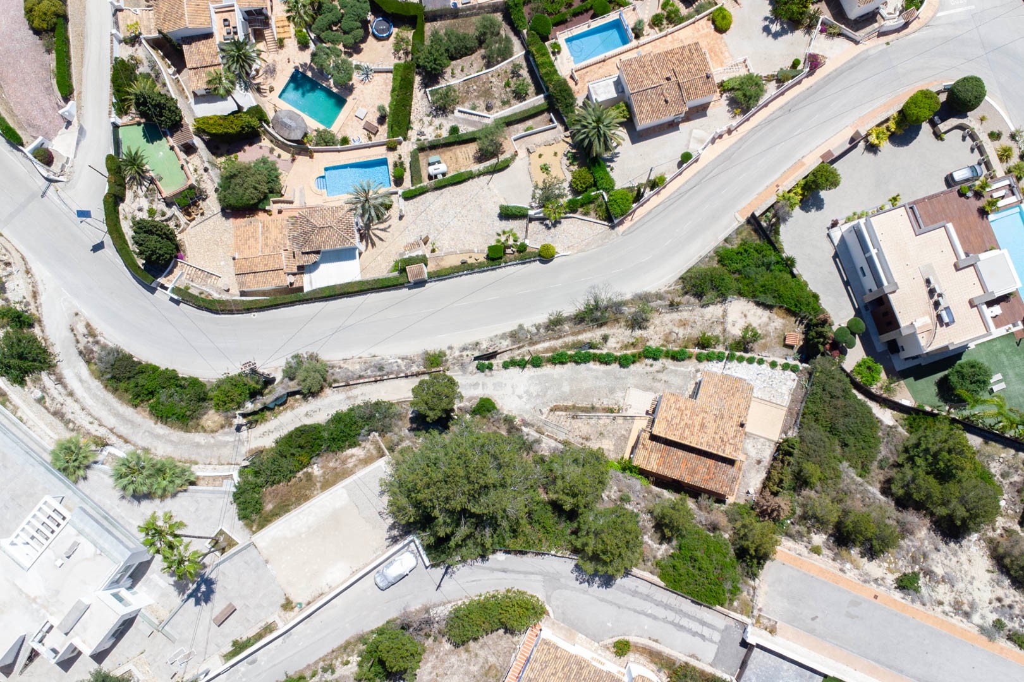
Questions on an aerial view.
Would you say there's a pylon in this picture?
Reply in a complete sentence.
Yes, there's a pylon here.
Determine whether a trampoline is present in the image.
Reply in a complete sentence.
Yes, a trampoline appears in the view.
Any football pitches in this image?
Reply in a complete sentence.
No, there appears to be no football pitch in this shot.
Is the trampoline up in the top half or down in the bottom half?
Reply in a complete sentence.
The trampoline sits in the top half of the picture.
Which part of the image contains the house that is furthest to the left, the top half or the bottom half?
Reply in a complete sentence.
The house that is furthest to the left sits in the bottom half of the picture.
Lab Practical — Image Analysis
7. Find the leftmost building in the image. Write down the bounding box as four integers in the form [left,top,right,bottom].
[0,413,171,677]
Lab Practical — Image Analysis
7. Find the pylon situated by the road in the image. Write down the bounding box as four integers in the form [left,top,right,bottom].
[226,358,283,390]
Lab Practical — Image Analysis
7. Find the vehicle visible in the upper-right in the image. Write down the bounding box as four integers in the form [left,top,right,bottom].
[940,164,984,189]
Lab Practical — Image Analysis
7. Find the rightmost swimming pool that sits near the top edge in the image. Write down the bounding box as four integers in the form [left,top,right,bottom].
[562,15,634,67]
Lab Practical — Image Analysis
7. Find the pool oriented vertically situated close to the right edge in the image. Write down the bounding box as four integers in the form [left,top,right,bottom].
[988,204,1024,289]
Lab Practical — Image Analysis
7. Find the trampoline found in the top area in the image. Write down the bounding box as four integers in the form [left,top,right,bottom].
[368,14,396,41]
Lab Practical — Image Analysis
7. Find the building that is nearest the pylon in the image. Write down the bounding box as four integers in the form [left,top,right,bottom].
[234,203,362,291]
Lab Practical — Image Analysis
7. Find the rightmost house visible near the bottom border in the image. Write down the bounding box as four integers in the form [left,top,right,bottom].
[739,644,824,682]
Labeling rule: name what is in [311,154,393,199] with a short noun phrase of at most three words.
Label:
swimming pool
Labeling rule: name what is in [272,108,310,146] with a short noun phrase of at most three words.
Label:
gazebo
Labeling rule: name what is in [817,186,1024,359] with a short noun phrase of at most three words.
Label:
house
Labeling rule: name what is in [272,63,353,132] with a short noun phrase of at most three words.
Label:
swimming pool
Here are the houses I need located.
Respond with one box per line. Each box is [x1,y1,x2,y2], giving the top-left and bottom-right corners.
[503,618,659,682]
[234,203,362,291]
[118,0,288,116]
[633,371,786,502]
[0,413,171,677]
[587,41,717,129]
[844,0,900,21]
[739,644,824,682]
[817,186,1024,359]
